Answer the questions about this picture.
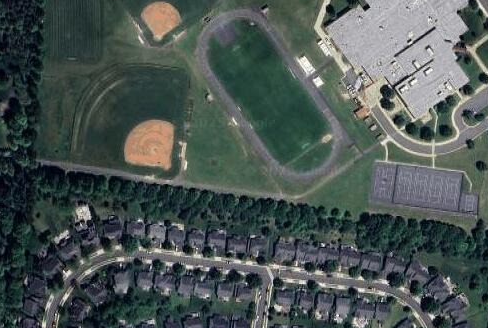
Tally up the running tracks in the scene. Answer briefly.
1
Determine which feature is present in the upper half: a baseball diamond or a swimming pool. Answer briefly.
baseball diamond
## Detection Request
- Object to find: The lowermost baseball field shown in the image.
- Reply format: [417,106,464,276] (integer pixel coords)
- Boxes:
[124,120,174,172]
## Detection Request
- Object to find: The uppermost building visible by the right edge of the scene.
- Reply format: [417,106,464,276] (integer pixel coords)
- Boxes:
[325,0,468,118]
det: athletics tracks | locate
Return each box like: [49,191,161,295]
[194,9,348,180]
